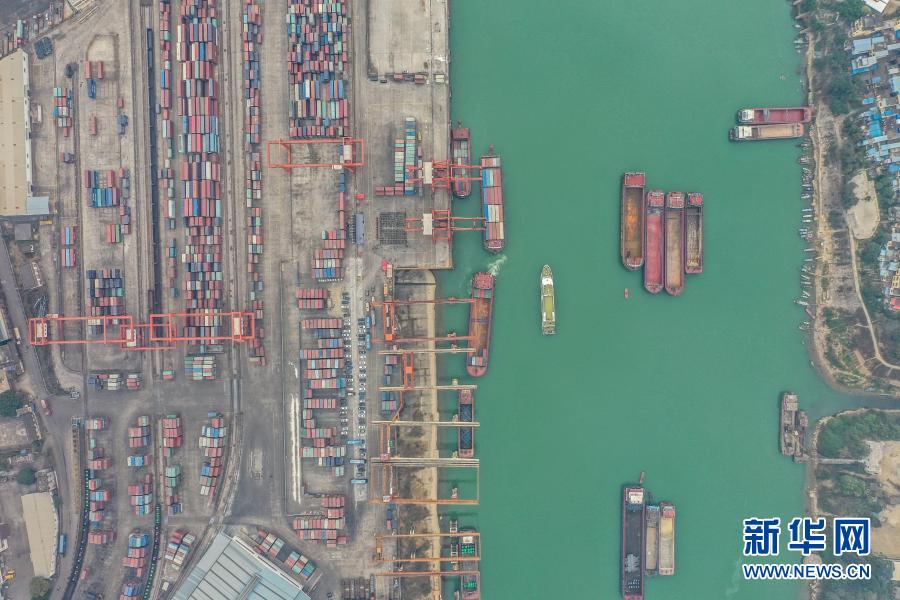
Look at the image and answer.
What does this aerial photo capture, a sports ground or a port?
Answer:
port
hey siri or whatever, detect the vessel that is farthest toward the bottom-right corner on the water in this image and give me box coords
[780,392,799,456]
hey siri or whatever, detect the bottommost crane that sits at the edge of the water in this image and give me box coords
[375,562,481,600]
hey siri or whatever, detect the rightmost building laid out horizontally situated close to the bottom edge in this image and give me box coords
[171,529,333,600]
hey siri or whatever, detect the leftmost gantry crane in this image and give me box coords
[29,312,135,344]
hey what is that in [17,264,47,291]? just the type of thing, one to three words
house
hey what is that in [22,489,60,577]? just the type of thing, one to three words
building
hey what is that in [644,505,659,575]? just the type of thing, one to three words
ship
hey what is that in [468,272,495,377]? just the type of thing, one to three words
ship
